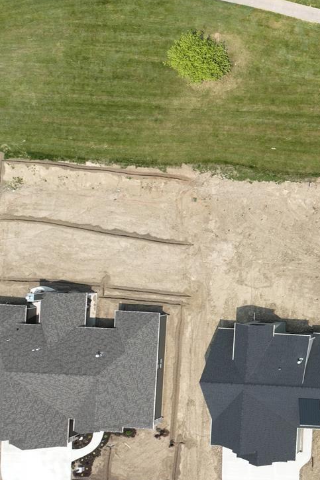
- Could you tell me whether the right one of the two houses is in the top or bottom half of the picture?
bottom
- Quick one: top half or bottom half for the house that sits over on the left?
bottom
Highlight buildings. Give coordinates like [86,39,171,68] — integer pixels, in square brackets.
[0,292,164,452]
[199,322,320,467]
